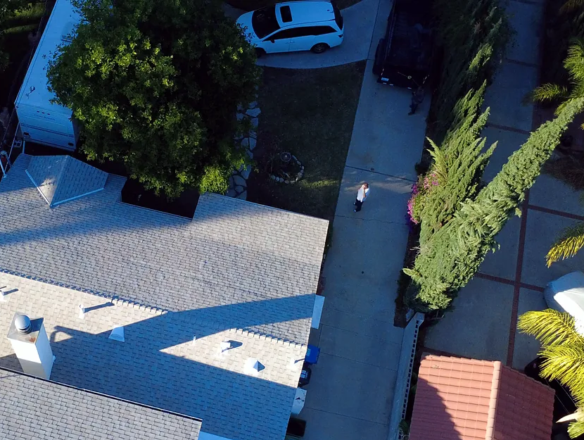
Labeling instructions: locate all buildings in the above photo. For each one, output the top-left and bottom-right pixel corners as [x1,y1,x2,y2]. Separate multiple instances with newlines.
[406,354,558,440]
[0,151,329,440]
